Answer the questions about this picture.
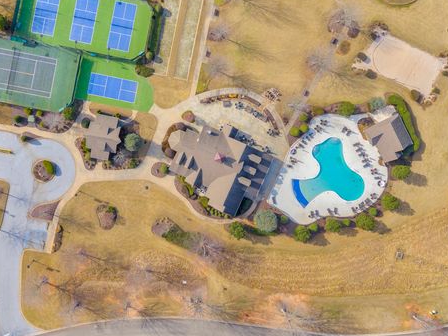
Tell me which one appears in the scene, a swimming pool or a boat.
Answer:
swimming pool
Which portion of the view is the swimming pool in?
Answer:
right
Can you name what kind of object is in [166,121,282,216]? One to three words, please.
building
